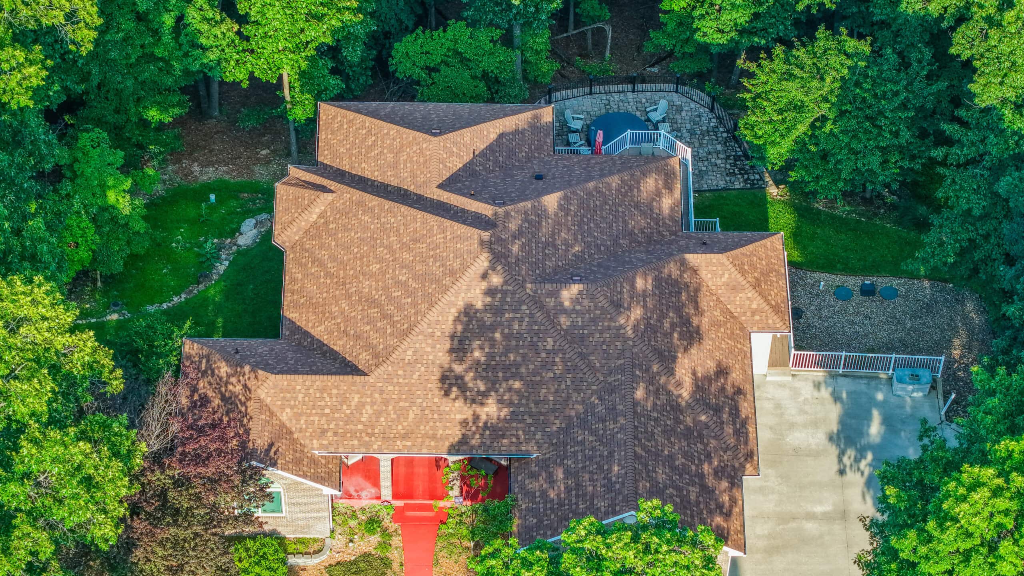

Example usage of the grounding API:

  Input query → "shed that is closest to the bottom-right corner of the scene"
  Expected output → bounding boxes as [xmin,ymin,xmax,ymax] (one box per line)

[894,362,936,394]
